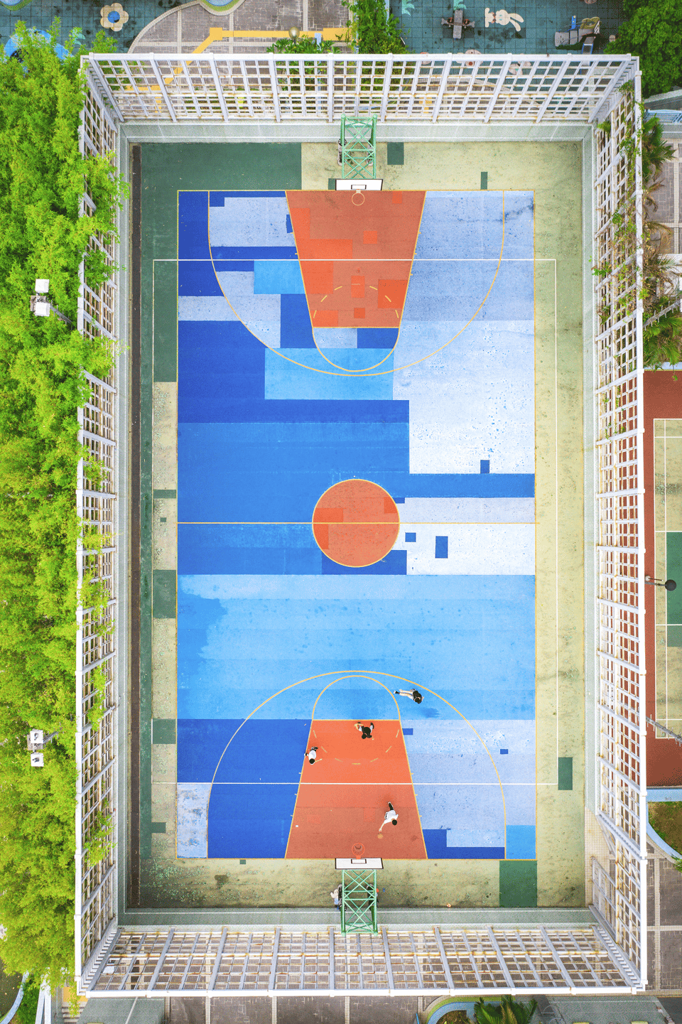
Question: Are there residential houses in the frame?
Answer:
No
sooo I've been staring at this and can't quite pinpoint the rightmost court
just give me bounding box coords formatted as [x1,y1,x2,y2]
[602,370,682,785]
